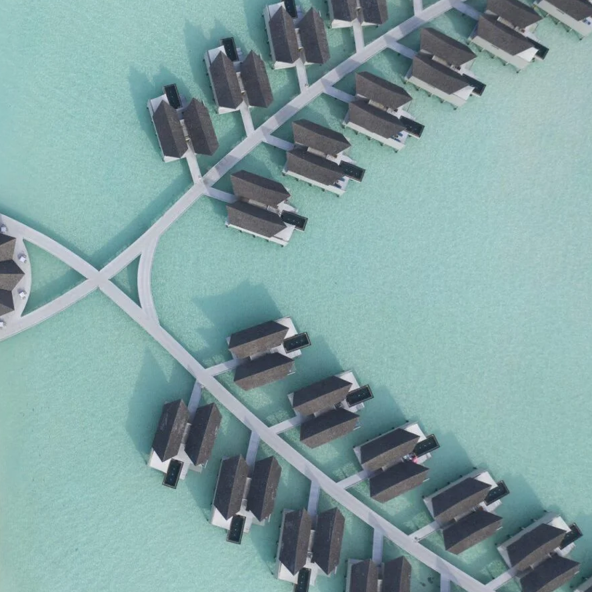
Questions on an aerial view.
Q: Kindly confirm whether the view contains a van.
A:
No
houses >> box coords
[413,462,503,554]
[336,72,420,155]
[345,416,433,502]
[277,119,361,198]
[206,450,282,538]
[395,29,480,113]
[339,549,411,592]
[259,0,330,76]
[282,366,368,448]
[460,0,543,77]
[485,504,580,592]
[145,85,217,167]
[321,0,386,36]
[269,501,345,591]
[223,315,307,391]
[221,171,304,248]
[145,397,222,483]
[201,39,271,120]
[525,0,592,44]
